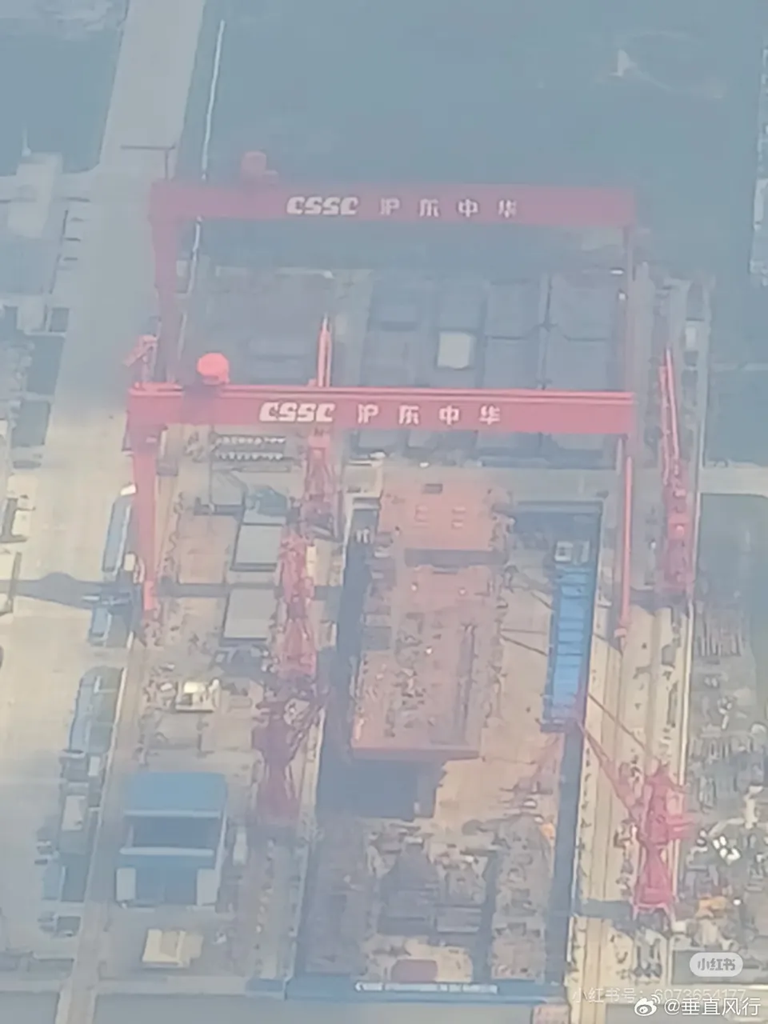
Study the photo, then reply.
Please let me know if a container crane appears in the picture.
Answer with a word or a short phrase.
Yes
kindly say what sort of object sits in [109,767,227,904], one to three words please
shed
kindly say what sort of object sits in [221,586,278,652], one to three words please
shed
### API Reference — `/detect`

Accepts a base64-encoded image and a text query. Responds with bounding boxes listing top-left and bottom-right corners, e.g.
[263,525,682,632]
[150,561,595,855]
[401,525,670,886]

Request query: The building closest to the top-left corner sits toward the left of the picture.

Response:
[6,86,66,239]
